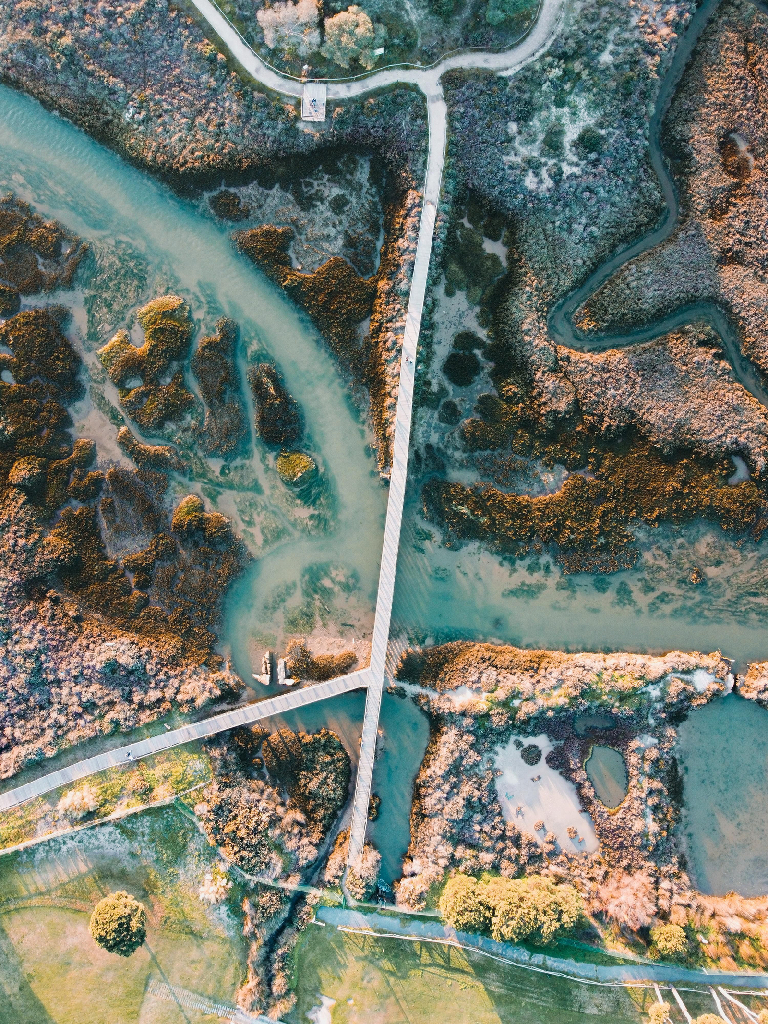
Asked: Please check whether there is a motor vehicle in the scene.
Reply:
No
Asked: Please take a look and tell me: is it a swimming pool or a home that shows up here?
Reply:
swimming pool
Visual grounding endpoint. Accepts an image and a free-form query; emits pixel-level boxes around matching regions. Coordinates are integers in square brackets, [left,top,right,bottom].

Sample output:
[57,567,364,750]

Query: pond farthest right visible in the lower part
[677,695,768,898]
